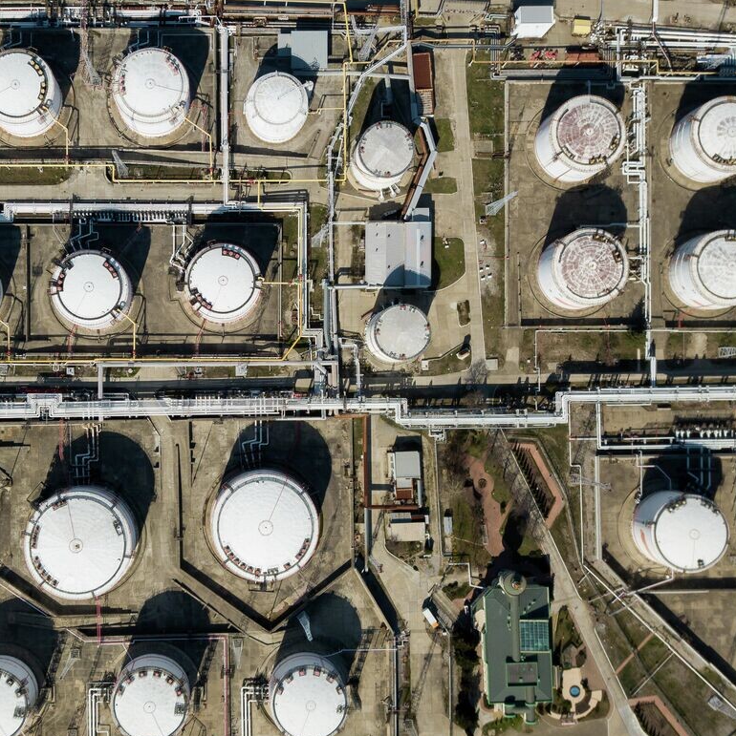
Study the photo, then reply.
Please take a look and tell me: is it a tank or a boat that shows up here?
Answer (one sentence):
It is a tank that can be seen here.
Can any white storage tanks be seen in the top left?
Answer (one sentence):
Yes, the scene does show a white storage tank in the top left.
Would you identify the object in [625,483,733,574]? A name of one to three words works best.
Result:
storage tank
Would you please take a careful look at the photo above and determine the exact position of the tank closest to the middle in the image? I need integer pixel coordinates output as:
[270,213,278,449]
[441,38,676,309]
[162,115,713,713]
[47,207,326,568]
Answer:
[360,302,432,367]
